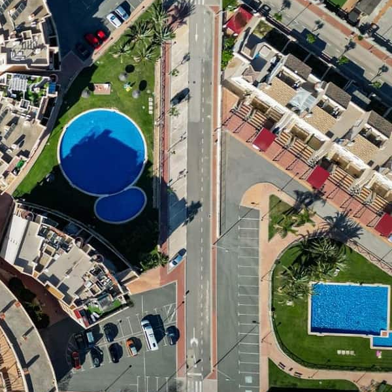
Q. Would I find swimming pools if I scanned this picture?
Yes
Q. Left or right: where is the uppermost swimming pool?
left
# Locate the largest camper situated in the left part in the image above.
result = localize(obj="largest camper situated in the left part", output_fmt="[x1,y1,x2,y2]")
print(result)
[141,321,159,348]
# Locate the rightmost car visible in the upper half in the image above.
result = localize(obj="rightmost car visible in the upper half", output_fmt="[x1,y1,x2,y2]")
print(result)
[172,89,188,103]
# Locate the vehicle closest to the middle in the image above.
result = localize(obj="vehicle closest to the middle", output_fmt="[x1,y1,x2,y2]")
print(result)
[169,249,185,264]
